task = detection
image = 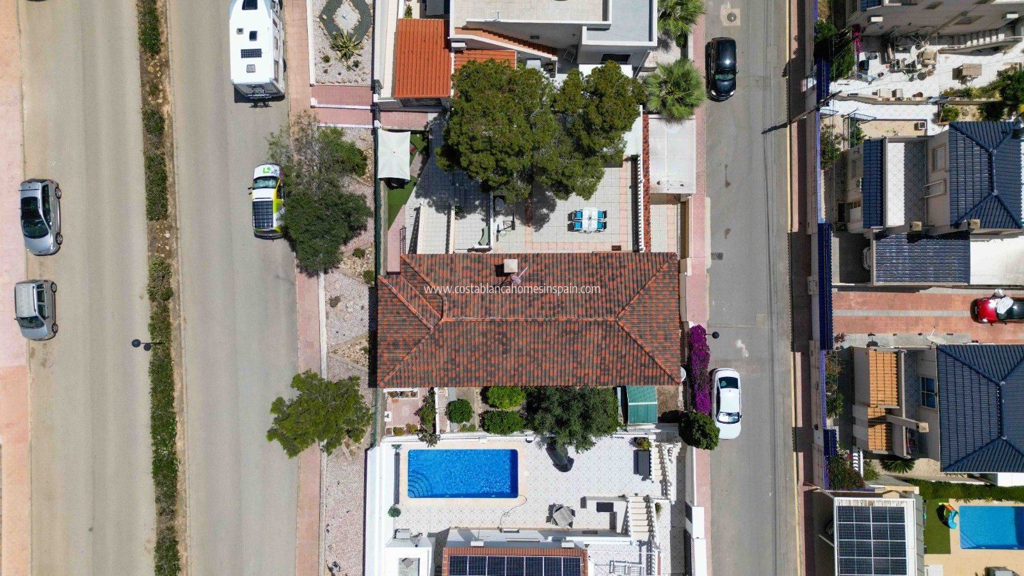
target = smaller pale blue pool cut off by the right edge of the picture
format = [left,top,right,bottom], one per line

[956,503,1024,551]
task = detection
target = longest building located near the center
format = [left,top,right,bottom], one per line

[376,252,690,389]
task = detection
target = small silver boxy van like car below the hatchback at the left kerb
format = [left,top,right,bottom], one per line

[10,278,55,341]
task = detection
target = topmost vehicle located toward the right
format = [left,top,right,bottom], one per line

[706,35,741,103]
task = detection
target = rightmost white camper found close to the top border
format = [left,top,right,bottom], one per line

[229,0,287,104]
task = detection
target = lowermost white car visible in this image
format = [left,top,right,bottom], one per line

[711,367,747,440]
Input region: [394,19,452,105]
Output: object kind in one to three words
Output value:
building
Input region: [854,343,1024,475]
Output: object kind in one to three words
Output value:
house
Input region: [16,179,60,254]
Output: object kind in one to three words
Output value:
car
